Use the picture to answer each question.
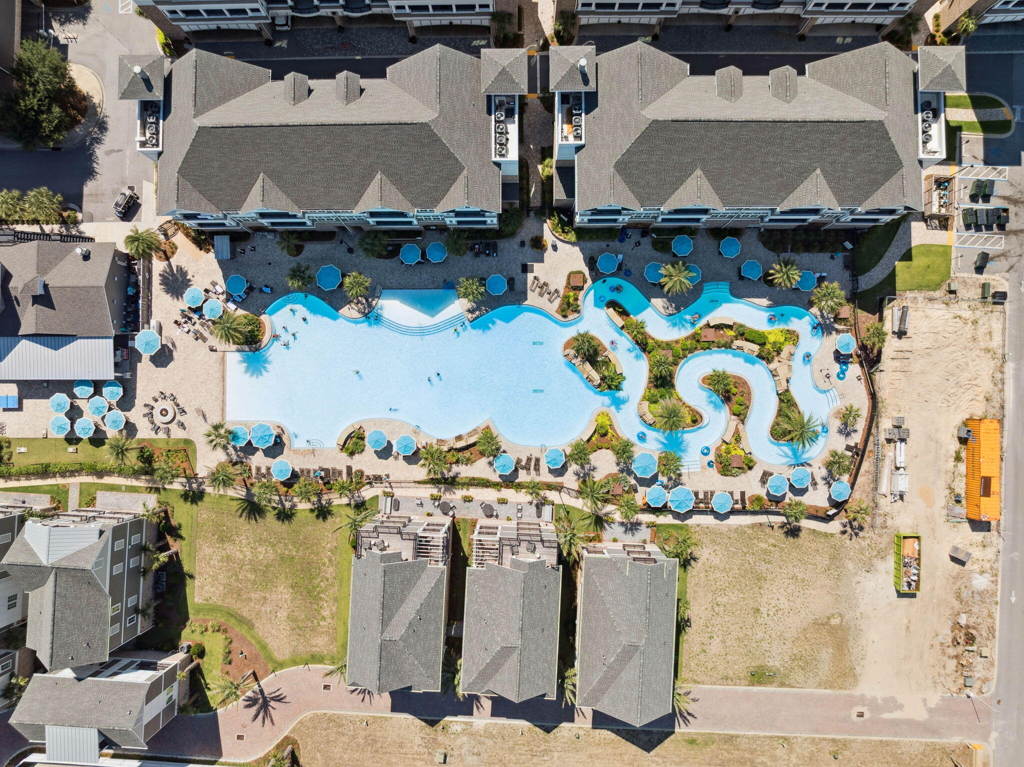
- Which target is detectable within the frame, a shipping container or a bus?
shipping container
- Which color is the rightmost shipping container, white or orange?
orange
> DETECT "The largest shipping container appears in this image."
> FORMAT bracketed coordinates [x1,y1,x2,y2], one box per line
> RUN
[964,418,999,521]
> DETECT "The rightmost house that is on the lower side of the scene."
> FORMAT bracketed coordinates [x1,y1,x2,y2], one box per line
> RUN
[571,533,679,728]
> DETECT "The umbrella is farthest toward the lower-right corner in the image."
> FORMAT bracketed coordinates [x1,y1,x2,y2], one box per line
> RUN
[828,480,851,502]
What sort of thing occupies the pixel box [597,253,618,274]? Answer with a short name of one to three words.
umbrella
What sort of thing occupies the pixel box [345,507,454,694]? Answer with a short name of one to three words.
house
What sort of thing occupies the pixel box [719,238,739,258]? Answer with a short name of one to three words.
umbrella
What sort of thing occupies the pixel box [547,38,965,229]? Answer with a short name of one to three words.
building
